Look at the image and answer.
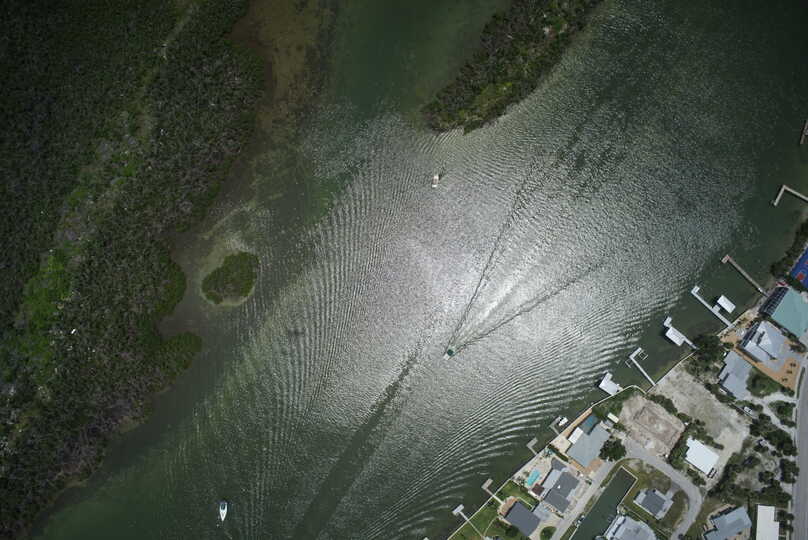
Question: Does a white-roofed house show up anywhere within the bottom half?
Yes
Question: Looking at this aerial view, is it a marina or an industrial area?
marina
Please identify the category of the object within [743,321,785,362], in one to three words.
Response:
house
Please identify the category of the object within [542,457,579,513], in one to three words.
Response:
house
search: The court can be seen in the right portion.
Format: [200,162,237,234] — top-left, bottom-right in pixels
[787,244,808,290]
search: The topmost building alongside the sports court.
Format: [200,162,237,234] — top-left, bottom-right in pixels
[769,288,808,339]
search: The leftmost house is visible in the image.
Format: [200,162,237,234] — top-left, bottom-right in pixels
[505,500,540,535]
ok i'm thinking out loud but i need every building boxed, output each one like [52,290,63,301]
[636,488,665,516]
[597,371,624,396]
[611,516,655,540]
[717,351,752,400]
[743,321,785,362]
[661,317,698,350]
[703,505,750,540]
[684,437,719,474]
[542,457,579,513]
[713,294,735,313]
[505,500,540,535]
[769,288,808,339]
[567,422,611,467]
[754,504,780,540]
